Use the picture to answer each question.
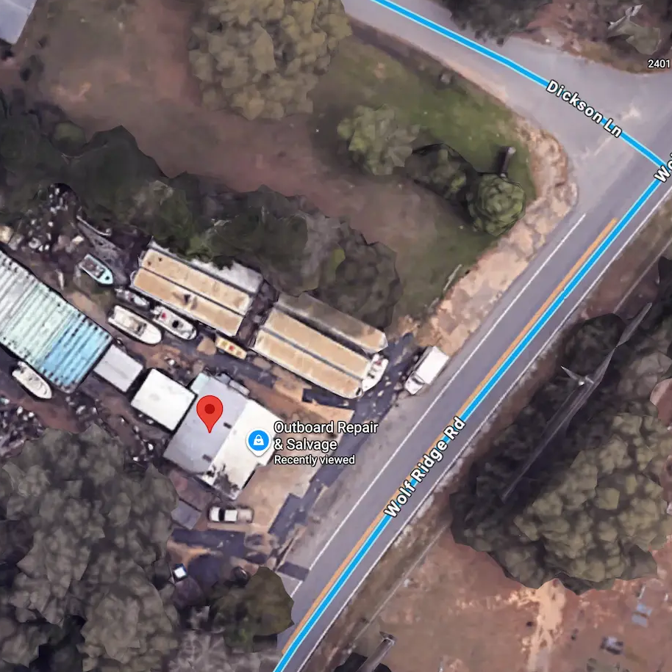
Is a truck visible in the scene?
Yes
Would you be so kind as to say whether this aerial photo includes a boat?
Yes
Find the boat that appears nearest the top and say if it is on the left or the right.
left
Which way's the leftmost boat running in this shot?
diagonally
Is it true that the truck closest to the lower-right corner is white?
Yes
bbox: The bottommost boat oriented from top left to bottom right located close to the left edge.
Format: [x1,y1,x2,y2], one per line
[9,362,53,399]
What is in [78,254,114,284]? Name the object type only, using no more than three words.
boat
